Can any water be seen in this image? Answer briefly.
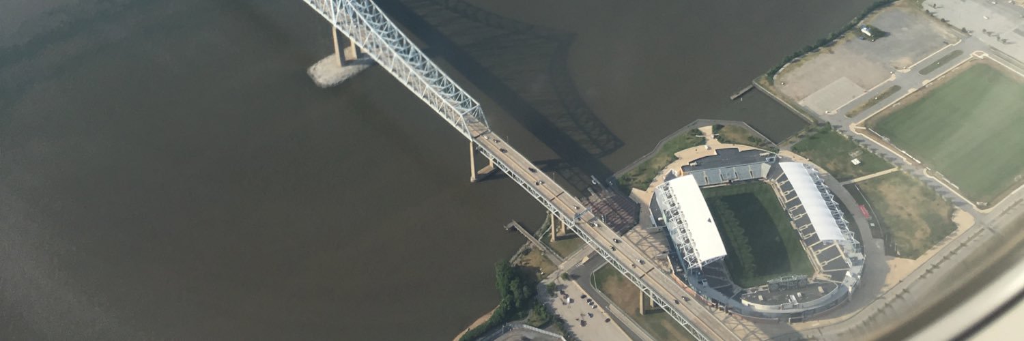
Yes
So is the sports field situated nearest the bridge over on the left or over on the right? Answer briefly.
right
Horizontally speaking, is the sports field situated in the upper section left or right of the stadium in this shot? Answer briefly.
to the right of it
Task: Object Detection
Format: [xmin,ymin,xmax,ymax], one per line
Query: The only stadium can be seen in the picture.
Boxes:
[646,151,865,322]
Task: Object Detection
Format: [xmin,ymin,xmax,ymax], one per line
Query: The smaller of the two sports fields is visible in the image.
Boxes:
[701,179,815,287]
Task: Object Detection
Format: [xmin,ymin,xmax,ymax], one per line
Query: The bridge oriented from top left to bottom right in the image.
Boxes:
[303,0,743,341]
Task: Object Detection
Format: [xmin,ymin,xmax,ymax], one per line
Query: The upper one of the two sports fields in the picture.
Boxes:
[862,57,1024,208]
